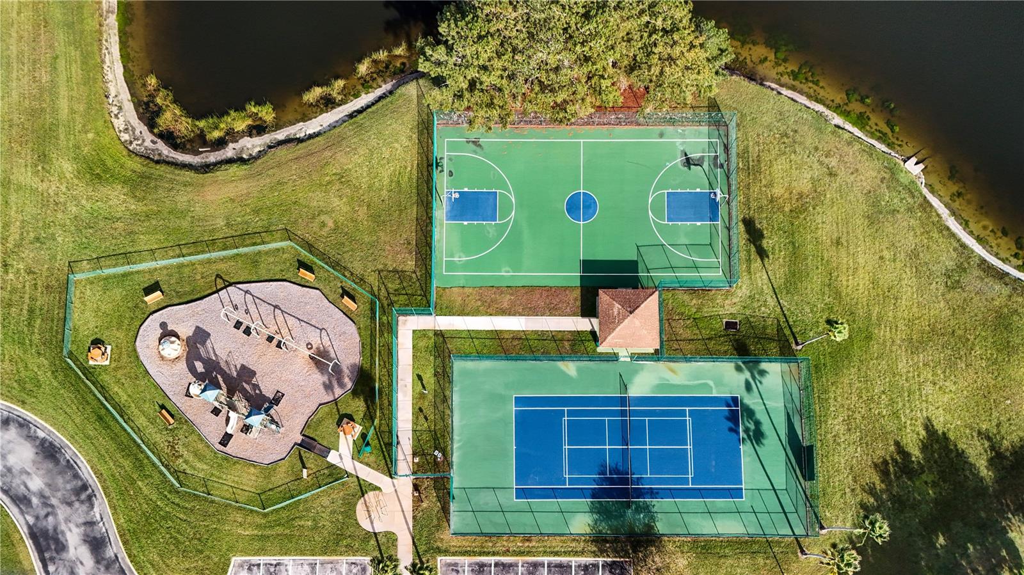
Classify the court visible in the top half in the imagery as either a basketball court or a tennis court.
basketball court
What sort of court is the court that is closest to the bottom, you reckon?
tennis court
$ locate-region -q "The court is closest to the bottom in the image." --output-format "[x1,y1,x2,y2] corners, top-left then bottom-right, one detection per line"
[453,361,808,535]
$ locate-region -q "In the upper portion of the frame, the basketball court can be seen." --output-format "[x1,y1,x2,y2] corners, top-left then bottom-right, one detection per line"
[433,126,731,287]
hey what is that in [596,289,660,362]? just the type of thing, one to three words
building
